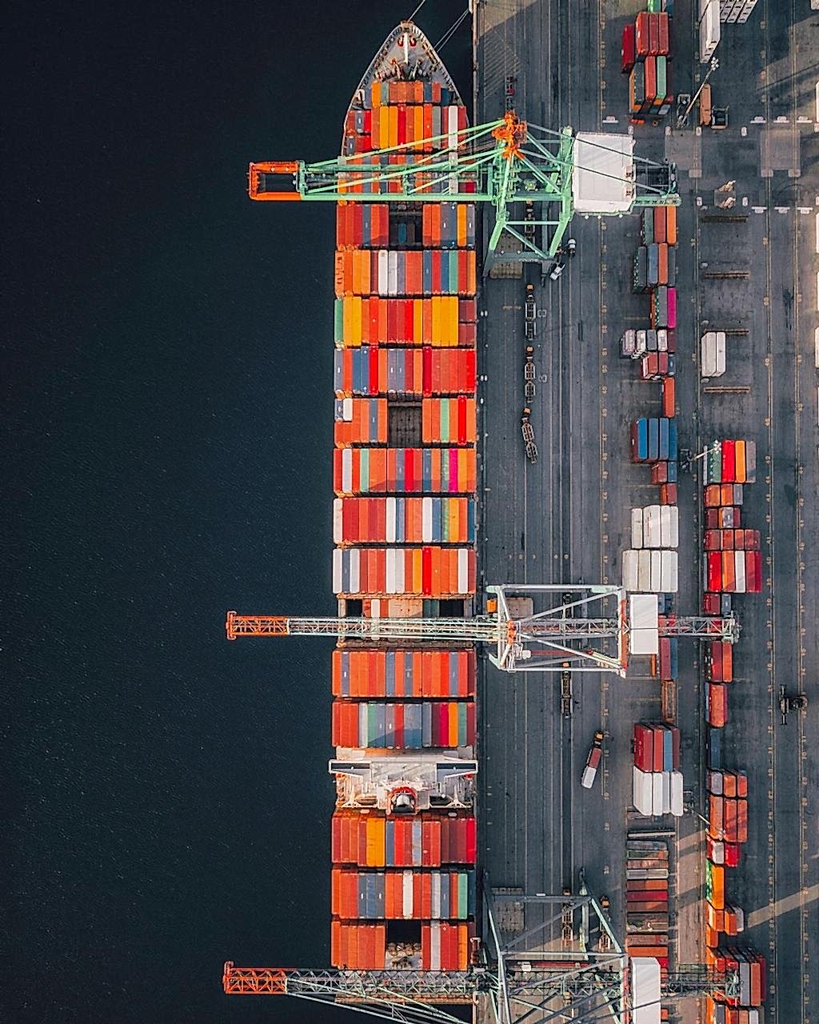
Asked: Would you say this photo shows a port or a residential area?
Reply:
port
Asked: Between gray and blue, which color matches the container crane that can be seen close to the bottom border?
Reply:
gray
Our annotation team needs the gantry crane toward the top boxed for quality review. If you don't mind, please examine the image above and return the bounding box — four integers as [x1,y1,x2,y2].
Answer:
[251,113,681,290]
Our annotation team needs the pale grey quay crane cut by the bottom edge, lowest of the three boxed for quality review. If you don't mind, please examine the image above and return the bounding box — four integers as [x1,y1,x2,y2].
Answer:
[221,870,744,1024]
